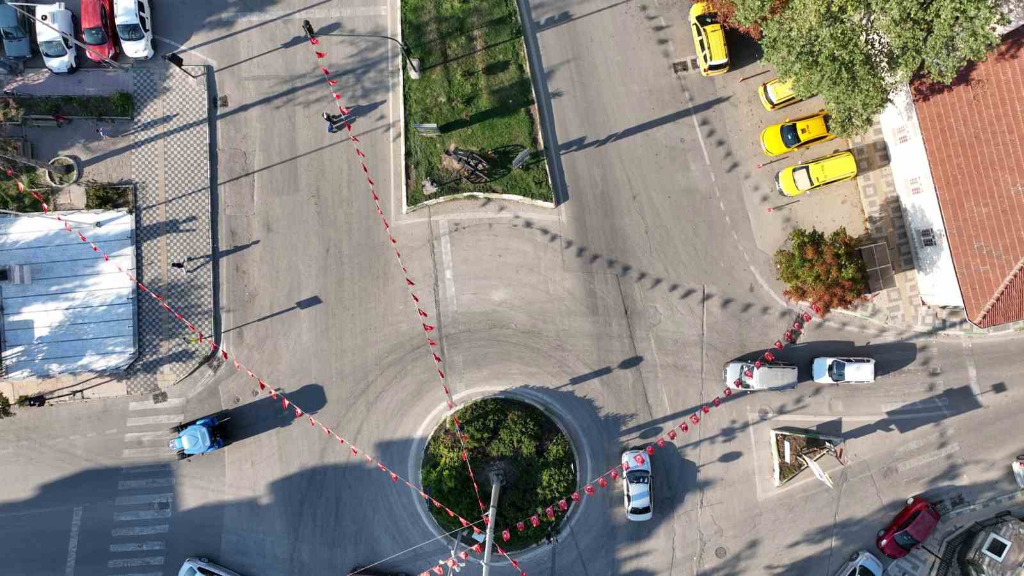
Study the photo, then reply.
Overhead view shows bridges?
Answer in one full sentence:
No, there isn't any bridge down there.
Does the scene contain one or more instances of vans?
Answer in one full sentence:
Yes, I can see a van in this picture.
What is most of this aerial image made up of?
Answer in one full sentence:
For the most part, this view shows paved ground.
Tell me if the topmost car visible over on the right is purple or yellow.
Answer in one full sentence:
The color of the topmost car visible over on the right is yellow.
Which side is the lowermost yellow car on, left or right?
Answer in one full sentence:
The lowermost yellow car is on the right side of the image.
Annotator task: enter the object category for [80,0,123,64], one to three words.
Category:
car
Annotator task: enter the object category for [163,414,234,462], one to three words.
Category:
work vehicle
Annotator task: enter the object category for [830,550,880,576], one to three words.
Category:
car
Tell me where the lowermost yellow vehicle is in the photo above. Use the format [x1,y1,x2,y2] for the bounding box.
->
[772,149,858,197]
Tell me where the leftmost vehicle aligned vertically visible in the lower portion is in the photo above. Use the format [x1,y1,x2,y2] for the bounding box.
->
[620,445,655,520]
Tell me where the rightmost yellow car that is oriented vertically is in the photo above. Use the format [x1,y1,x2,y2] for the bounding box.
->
[687,4,729,80]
